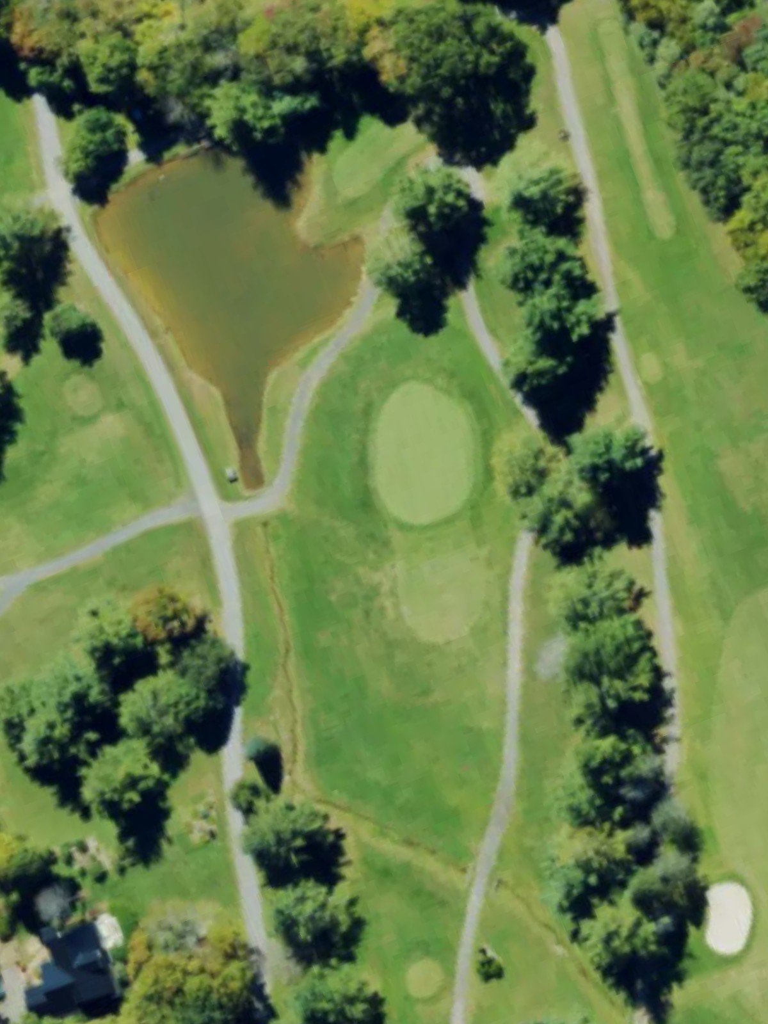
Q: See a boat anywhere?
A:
No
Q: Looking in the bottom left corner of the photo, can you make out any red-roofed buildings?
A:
No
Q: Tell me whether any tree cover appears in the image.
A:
Yes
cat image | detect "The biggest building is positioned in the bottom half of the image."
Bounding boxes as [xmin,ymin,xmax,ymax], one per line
[21,913,123,1017]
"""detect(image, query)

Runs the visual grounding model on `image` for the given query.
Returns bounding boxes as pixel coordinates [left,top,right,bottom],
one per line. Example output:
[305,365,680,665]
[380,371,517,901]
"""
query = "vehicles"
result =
[0,977,5,997]
[226,468,237,481]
